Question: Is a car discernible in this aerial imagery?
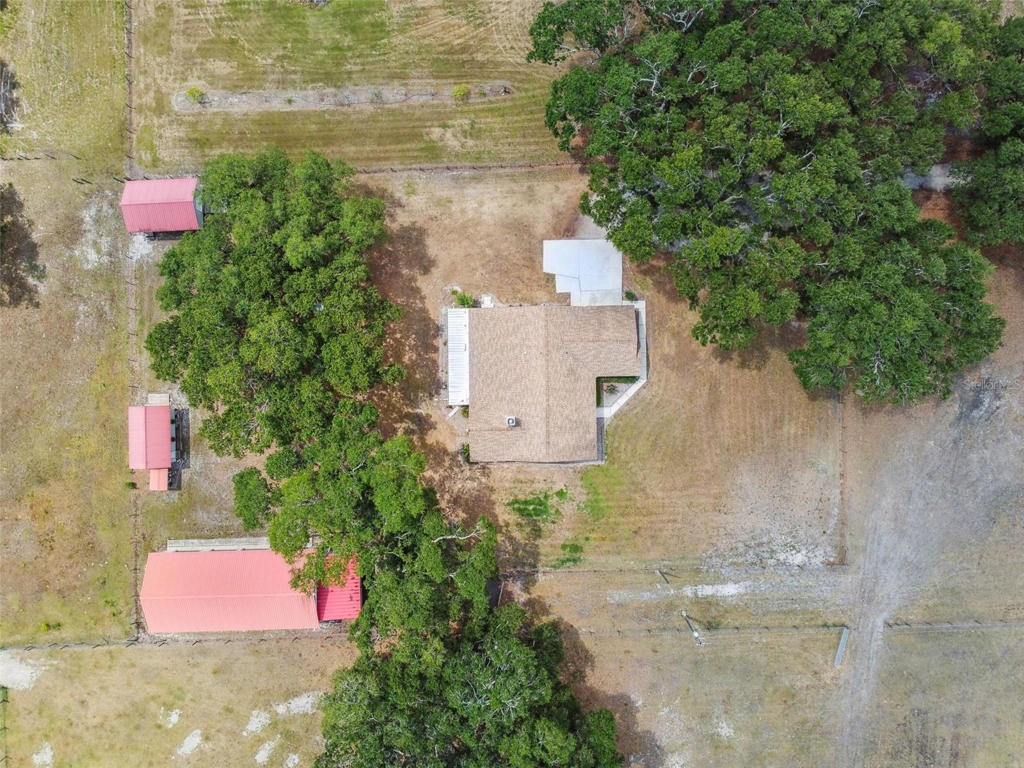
No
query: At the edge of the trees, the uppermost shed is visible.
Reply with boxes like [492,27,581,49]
[121,178,226,233]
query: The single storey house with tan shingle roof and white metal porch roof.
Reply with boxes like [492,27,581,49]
[448,305,642,462]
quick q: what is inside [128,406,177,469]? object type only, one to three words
shed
